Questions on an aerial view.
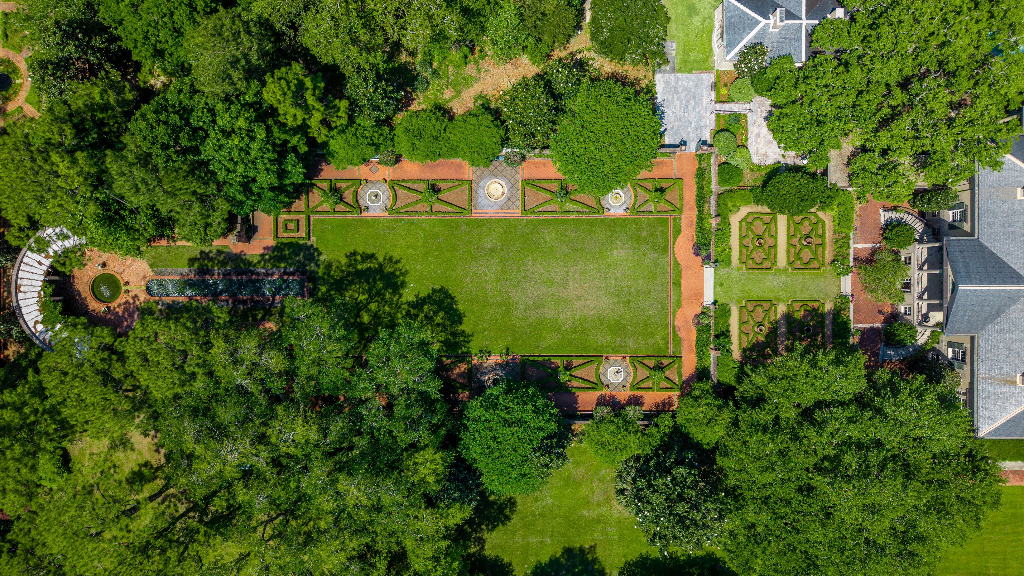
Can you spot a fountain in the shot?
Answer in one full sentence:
Yes, there's a fountain down there.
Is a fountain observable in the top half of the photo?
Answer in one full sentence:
Yes, looking in the top half of the photo, one can make out a fountain.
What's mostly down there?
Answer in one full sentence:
The scene is dominated by trees.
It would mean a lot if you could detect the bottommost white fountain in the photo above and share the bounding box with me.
[608,366,624,382]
